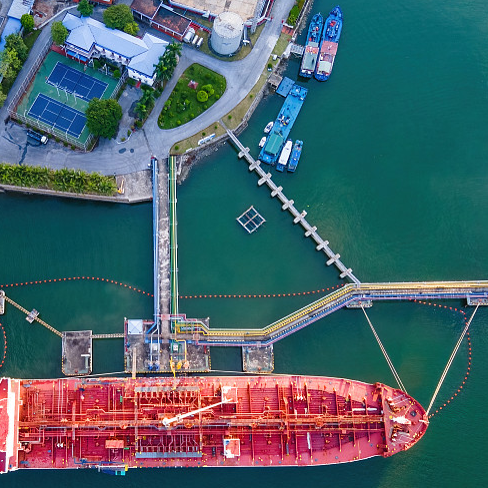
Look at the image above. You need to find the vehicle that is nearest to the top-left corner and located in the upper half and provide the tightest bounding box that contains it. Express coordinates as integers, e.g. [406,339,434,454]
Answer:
[27,130,48,144]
